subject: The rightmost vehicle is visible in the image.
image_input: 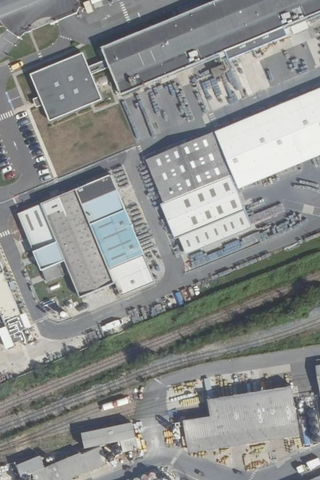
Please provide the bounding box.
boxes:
[297,458,320,474]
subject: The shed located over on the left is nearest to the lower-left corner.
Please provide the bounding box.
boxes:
[16,455,45,478]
